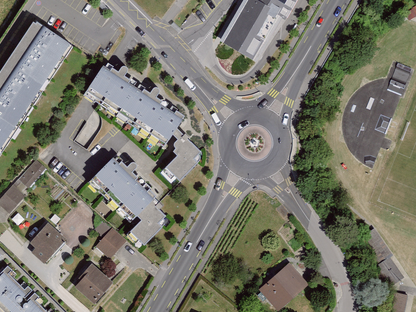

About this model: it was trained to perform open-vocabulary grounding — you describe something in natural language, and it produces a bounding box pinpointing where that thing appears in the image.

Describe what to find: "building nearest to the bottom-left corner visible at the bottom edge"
[0,266,44,312]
